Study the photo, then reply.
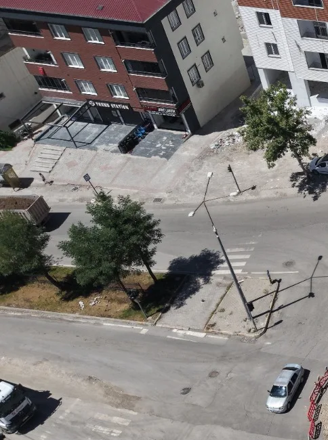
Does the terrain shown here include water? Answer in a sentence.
No, there's no water in this view.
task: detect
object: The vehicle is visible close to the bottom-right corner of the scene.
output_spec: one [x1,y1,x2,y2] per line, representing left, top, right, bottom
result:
[261,361,309,416]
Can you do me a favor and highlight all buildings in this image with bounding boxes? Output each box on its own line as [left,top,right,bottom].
[0,0,254,133]
[237,0,328,102]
